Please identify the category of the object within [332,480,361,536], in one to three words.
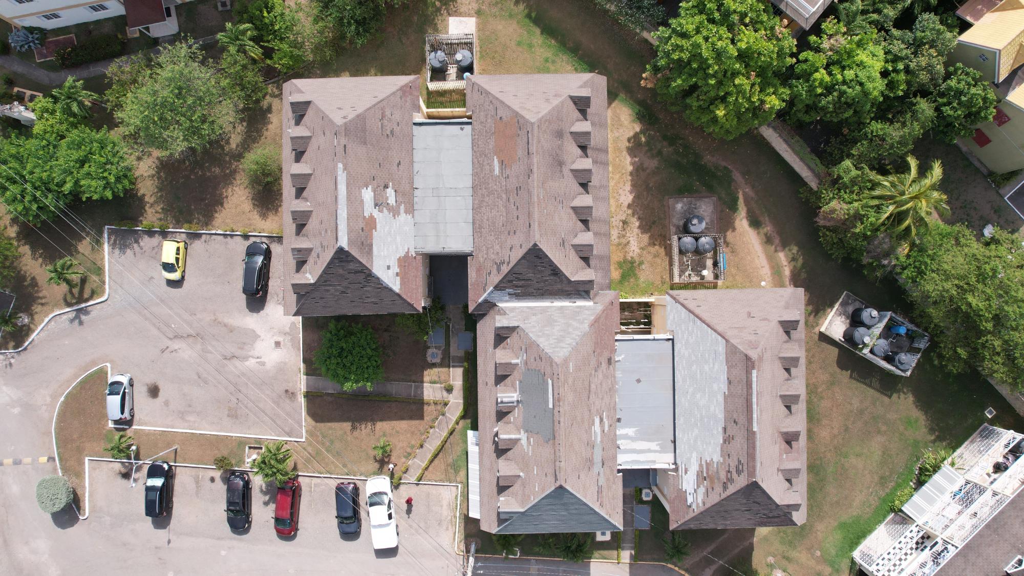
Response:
car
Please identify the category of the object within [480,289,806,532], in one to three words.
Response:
building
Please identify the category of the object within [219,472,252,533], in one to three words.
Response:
car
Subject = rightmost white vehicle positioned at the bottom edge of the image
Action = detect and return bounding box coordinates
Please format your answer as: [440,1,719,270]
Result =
[362,472,398,549]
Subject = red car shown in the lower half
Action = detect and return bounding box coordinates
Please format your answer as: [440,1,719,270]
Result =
[267,479,302,541]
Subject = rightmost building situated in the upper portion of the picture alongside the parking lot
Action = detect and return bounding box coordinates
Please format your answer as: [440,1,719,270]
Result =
[282,73,608,316]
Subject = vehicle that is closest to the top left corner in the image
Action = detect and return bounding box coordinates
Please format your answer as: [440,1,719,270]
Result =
[156,238,189,281]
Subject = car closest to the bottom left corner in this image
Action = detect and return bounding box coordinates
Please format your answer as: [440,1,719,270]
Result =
[137,460,173,520]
